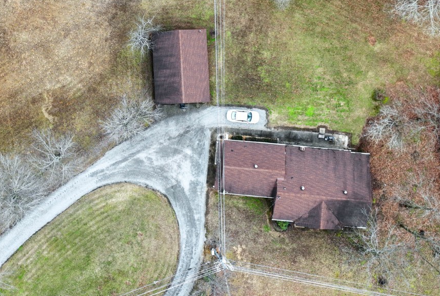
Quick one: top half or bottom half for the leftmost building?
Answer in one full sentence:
The leftmost building sits in the top half of the picture.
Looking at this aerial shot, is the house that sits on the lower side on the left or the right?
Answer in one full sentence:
The house that sits on the lower side is on the right side of the image.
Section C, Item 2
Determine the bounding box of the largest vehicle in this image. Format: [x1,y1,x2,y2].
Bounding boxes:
[228,109,259,124]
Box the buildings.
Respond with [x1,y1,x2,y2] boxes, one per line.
[152,30,210,105]
[213,140,372,230]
